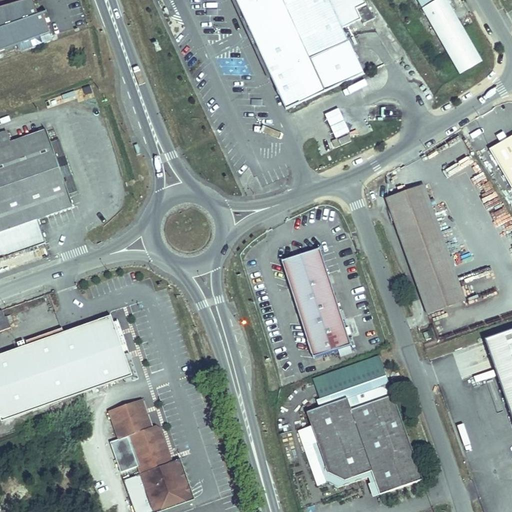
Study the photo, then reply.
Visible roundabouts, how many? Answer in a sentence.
In total, 1 roundabout can be seen.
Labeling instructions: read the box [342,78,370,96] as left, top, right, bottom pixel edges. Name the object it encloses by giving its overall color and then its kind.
white vehicle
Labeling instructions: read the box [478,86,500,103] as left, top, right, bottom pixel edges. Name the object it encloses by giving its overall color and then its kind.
white vehicle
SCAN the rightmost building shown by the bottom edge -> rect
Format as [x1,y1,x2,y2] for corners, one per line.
[352,394,422,495]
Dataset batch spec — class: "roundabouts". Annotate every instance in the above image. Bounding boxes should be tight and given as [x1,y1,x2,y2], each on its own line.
[145,186,230,272]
